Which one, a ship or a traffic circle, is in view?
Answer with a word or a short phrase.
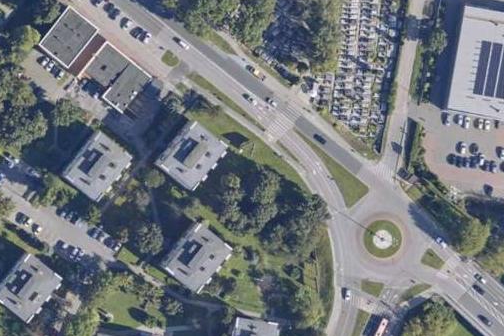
traffic circle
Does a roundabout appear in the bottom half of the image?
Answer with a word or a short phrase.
Yes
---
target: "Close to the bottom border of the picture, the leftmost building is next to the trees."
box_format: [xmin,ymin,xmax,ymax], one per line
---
[0,253,63,323]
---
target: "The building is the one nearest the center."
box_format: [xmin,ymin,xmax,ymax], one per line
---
[156,121,229,190]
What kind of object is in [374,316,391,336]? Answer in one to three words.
vehicle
